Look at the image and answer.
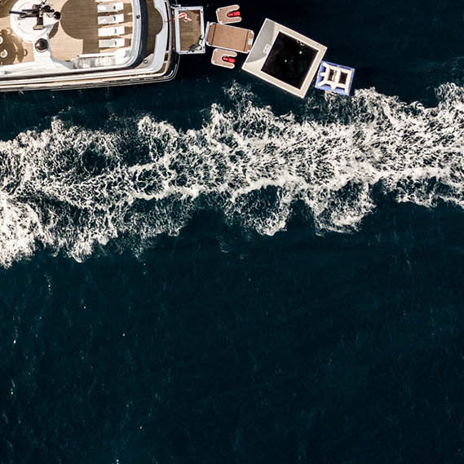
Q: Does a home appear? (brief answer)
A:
No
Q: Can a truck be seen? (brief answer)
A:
No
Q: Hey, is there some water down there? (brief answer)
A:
Yes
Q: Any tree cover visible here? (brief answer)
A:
No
